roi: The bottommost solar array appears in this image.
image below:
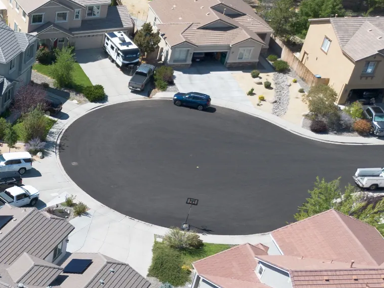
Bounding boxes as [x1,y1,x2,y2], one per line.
[65,257,101,277]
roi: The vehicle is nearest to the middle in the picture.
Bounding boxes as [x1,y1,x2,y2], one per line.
[169,91,216,114]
